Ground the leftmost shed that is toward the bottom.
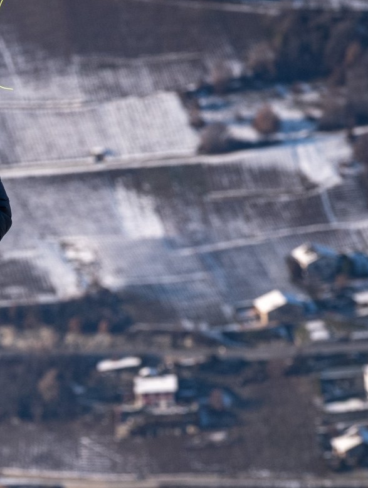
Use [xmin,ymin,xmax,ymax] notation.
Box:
[94,359,143,373]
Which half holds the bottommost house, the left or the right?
right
